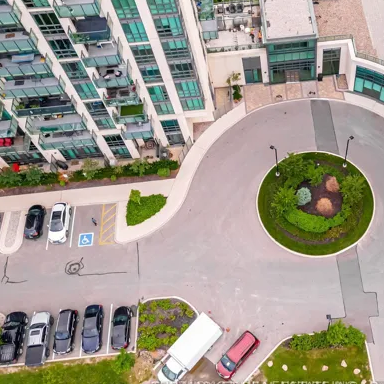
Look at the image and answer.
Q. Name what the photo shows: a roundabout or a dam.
roundabout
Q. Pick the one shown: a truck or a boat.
truck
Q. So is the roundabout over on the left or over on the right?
right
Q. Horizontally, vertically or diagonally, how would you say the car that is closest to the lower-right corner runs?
diagonally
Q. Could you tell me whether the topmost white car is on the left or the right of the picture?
left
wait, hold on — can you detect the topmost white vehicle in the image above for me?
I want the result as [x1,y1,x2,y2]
[47,204,72,246]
